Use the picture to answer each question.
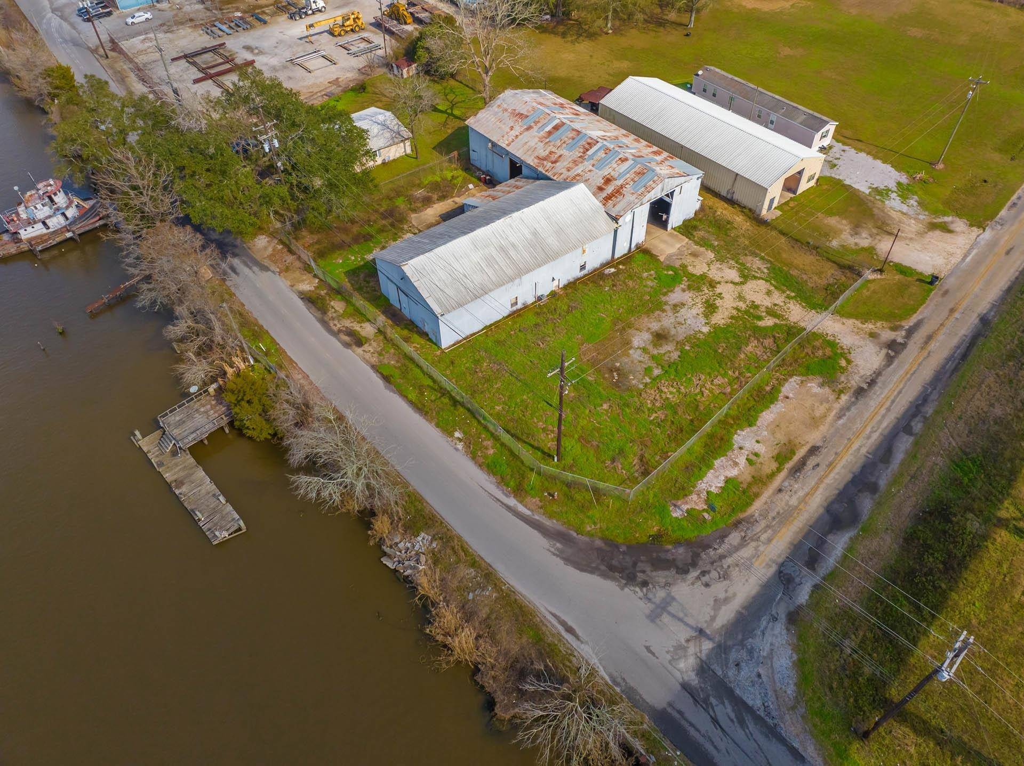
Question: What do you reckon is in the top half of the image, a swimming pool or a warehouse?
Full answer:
There is a warehouse in the top half of the image.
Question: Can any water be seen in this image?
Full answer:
Yes, some water is visible.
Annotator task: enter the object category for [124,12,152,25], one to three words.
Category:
vehicle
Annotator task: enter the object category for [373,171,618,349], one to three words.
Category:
warehouse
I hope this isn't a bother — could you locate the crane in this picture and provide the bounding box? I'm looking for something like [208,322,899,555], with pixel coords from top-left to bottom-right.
[296,7,368,43]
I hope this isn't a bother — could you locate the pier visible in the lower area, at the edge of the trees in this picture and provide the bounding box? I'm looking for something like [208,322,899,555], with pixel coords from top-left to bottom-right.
[131,424,249,547]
